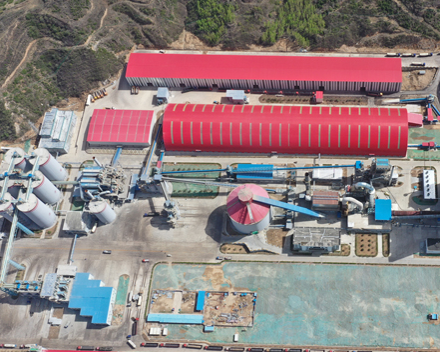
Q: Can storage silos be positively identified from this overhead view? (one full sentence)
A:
Yes, you can see a storage silo in this photo.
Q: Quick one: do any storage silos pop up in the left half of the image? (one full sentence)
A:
Yes, you'll find a storage silo in the left half of the image.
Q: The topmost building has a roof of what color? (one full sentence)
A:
The roof of the topmost building is red.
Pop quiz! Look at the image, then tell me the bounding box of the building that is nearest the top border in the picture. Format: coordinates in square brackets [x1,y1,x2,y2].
[124,53,403,92]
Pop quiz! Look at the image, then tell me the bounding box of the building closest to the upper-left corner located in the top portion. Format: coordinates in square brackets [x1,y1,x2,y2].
[39,110,80,155]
